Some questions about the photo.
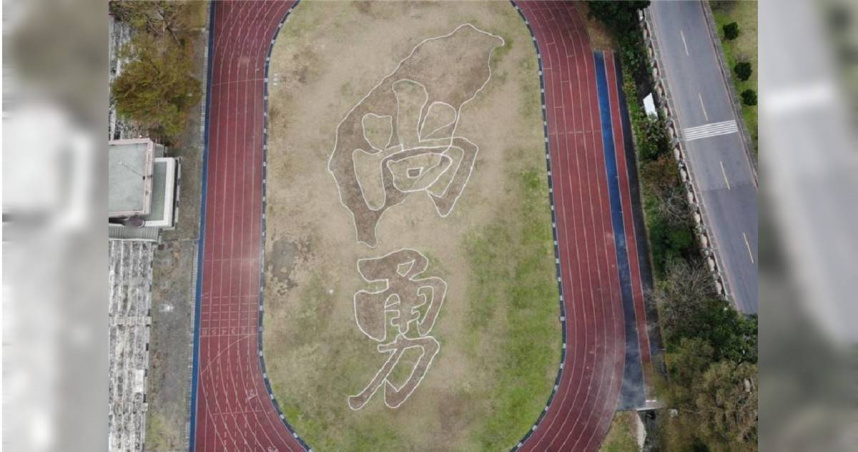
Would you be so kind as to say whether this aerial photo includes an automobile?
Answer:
No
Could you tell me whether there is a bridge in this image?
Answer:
No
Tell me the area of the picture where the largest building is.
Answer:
left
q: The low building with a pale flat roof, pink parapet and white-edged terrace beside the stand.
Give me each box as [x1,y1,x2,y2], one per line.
[12,140,183,245]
